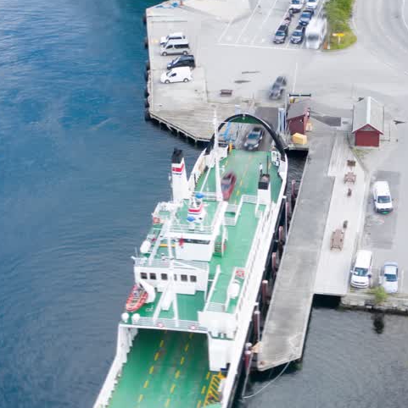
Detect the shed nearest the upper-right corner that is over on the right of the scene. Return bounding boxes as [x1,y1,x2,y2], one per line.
[352,101,384,146]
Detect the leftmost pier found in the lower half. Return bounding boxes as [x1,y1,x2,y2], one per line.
[252,134,338,380]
